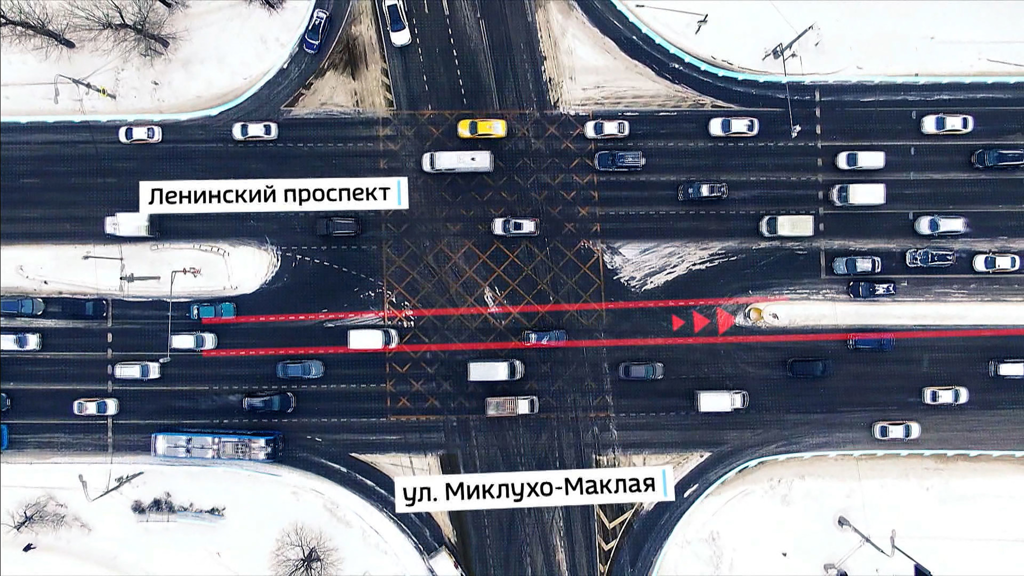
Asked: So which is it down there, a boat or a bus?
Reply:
bus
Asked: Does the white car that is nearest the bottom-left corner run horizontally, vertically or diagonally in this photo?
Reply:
horizontally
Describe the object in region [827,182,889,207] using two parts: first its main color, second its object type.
white vehicle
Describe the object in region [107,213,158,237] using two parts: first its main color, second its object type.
white truck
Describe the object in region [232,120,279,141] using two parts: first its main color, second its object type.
white car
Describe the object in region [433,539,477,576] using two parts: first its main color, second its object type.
white truck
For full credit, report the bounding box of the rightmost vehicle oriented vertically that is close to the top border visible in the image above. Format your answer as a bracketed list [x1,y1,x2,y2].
[383,0,410,49]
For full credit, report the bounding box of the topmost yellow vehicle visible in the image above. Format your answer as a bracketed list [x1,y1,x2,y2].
[457,117,507,139]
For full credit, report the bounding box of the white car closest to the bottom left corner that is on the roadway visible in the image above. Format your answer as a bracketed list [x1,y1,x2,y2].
[71,397,121,418]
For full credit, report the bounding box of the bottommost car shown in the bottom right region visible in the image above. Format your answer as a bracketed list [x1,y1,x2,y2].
[870,420,920,441]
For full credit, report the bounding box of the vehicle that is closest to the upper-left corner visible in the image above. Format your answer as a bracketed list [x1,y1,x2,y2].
[118,123,164,145]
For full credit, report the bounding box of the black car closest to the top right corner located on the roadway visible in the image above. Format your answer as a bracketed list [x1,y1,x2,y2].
[968,148,1024,170]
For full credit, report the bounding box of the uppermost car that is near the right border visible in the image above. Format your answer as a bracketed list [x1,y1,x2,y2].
[919,113,974,134]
